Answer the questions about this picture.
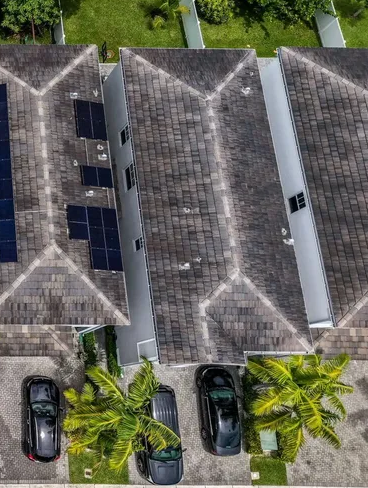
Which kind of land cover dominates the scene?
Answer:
buildings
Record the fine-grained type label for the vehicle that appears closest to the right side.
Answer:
automobile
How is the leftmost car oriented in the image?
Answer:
up and down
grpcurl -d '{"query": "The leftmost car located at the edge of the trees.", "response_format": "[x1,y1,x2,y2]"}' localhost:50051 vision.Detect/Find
[21,376,65,466]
